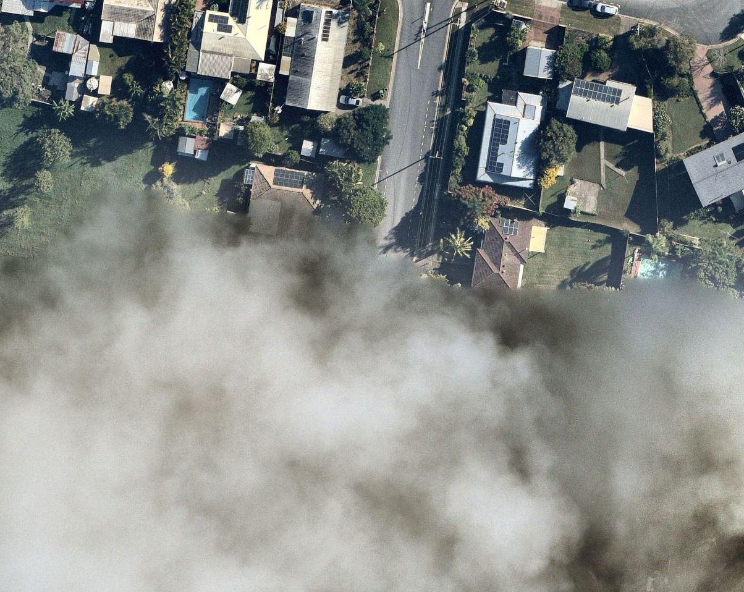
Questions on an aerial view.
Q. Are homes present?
Yes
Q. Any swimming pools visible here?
Yes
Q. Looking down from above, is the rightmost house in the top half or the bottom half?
top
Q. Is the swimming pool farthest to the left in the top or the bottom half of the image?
top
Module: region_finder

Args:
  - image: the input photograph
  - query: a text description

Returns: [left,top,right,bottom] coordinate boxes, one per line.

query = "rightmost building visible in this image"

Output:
[683,133,744,213]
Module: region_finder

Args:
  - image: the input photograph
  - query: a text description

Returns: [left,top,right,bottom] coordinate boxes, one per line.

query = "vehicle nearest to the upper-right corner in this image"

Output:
[595,2,618,15]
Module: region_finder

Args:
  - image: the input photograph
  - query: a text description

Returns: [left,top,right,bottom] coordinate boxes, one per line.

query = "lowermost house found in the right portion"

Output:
[469,218,547,305]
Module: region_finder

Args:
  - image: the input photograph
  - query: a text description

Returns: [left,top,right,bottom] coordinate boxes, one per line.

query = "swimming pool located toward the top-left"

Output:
[182,76,221,126]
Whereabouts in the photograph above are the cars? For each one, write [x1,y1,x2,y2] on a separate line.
[595,2,618,15]
[568,0,595,9]
[340,96,362,105]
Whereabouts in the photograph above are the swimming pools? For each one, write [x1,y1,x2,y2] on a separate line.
[182,76,221,126]
[630,249,684,287]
